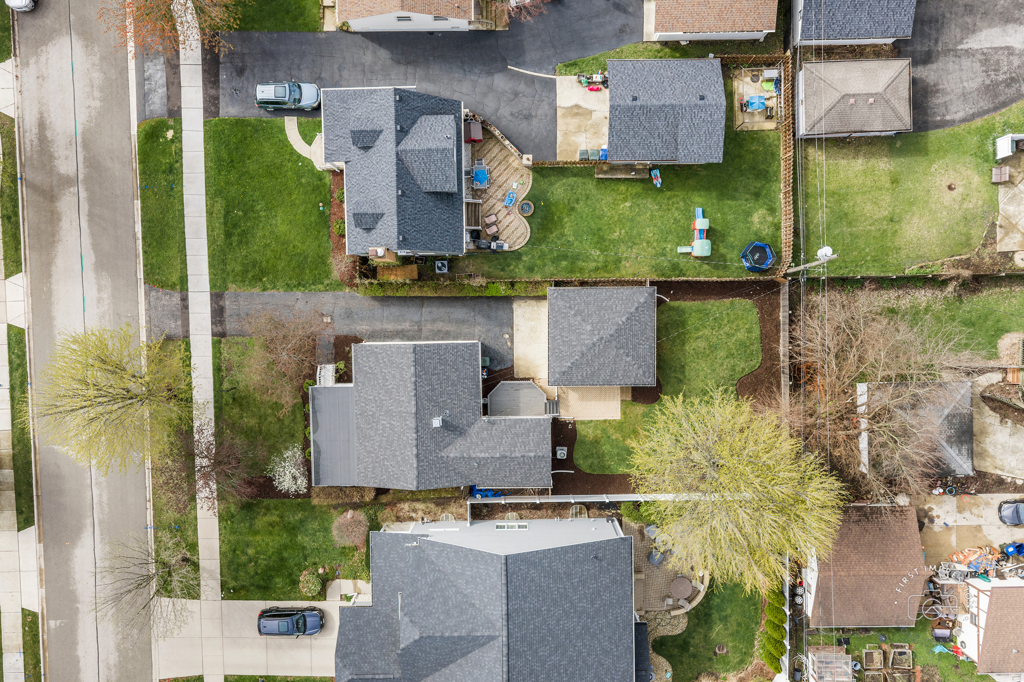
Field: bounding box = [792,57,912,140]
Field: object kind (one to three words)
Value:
building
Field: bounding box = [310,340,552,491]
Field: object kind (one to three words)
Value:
house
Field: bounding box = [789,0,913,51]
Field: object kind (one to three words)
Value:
building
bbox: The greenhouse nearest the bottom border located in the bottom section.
[805,642,852,682]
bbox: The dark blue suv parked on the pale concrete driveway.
[256,605,325,640]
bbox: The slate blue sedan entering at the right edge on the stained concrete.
[995,498,1024,530]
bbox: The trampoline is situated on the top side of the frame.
[742,240,782,273]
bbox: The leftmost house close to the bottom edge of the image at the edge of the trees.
[336,518,649,682]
